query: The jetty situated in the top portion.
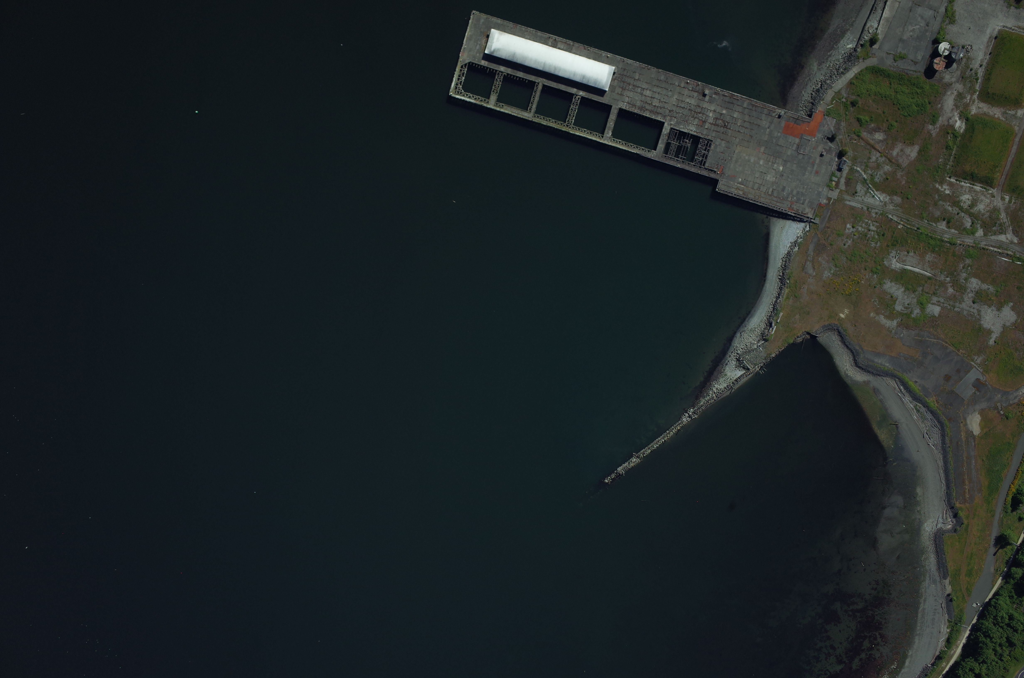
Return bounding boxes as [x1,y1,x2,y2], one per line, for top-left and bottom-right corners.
[450,11,841,224]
